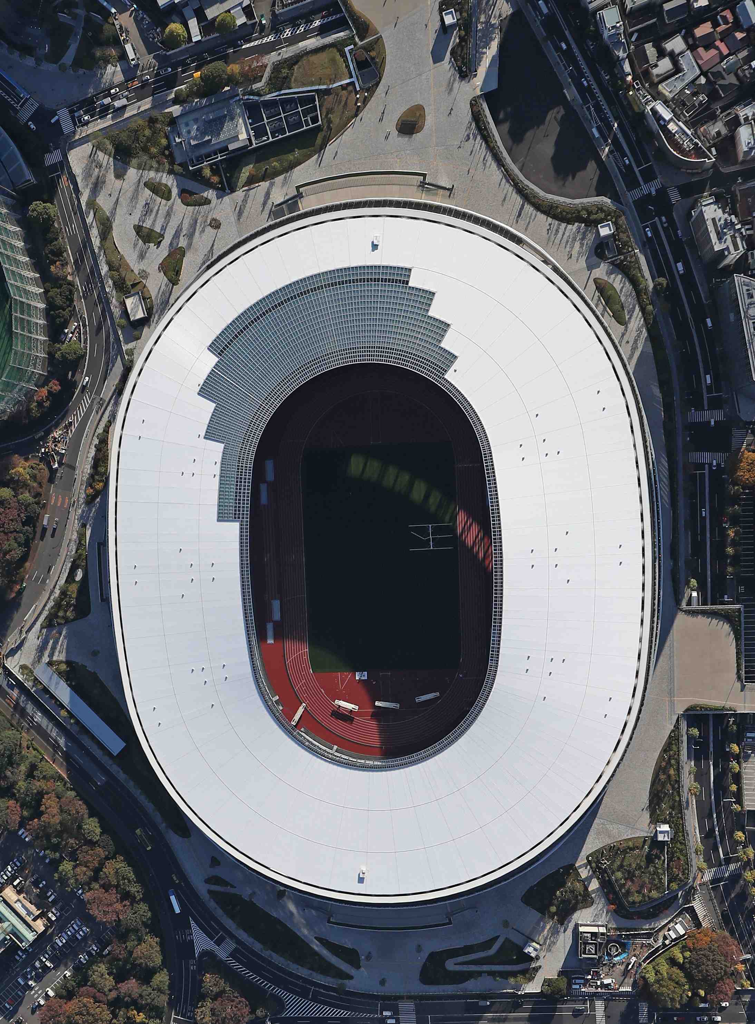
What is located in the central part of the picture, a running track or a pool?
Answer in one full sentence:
You can see a running track in the central part of the picture.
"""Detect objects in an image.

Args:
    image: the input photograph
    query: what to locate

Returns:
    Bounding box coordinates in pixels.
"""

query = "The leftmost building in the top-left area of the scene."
[0,125,42,195]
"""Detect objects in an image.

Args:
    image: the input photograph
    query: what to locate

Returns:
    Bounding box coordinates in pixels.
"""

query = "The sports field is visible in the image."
[301,442,459,673]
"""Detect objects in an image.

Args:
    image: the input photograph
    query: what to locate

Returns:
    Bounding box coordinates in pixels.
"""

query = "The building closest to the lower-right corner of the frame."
[663,915,690,939]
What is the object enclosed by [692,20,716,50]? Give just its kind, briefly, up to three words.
house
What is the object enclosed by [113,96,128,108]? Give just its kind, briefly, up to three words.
vehicle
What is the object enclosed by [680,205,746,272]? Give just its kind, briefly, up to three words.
building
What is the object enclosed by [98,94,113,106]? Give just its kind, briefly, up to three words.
vehicle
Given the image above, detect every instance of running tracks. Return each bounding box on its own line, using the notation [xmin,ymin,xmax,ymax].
[251,366,490,758]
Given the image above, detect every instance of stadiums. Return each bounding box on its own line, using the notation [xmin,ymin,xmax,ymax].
[106,198,664,909]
